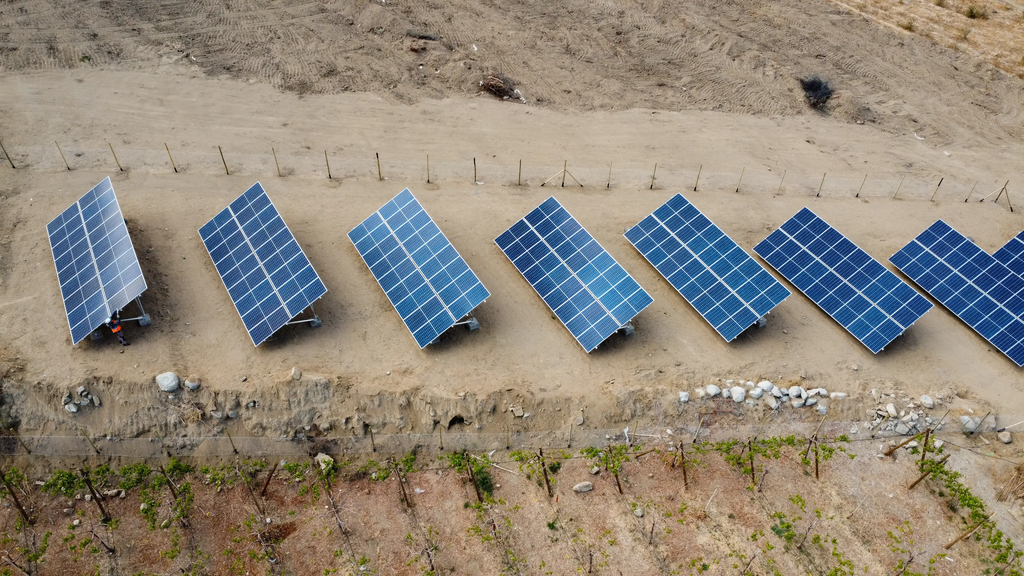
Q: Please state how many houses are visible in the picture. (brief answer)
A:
0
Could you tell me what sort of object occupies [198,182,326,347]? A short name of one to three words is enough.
solar array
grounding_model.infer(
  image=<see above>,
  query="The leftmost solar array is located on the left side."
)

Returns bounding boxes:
[45,175,157,346]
